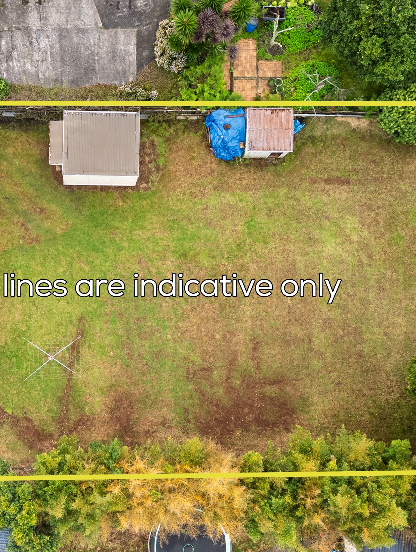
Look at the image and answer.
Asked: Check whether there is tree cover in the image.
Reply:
Yes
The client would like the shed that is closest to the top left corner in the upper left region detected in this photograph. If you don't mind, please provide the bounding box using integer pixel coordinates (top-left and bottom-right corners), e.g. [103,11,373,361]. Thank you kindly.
[49,109,141,186]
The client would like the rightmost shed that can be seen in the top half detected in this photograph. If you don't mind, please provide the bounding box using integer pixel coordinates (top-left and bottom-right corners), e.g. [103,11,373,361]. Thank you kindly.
[245,107,295,164]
